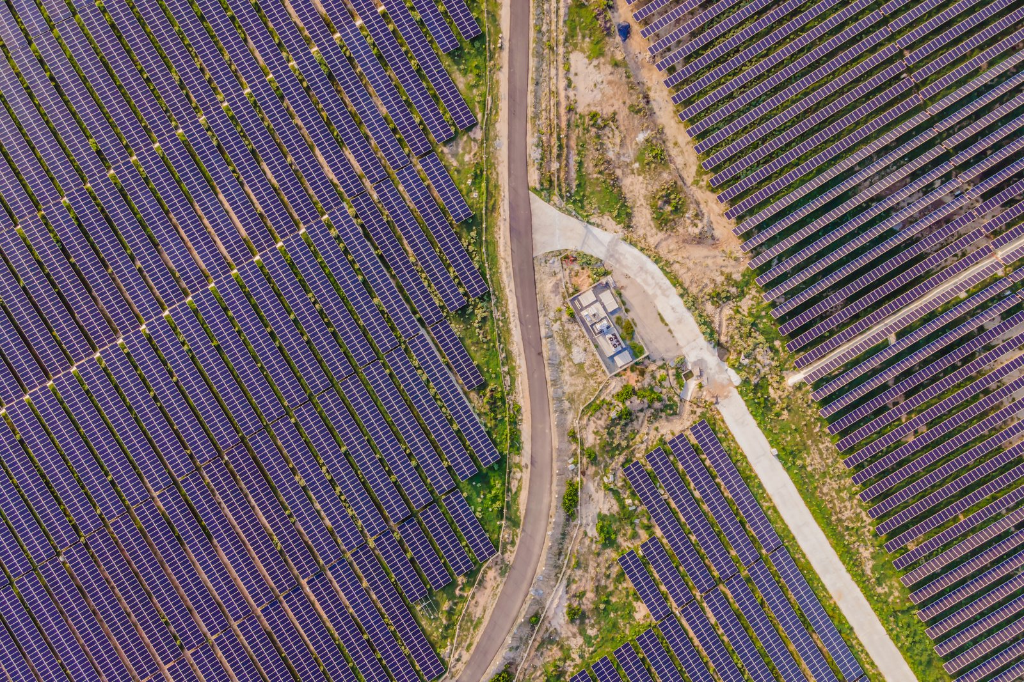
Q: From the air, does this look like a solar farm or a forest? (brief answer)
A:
solar farm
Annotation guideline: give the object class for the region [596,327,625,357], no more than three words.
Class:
building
